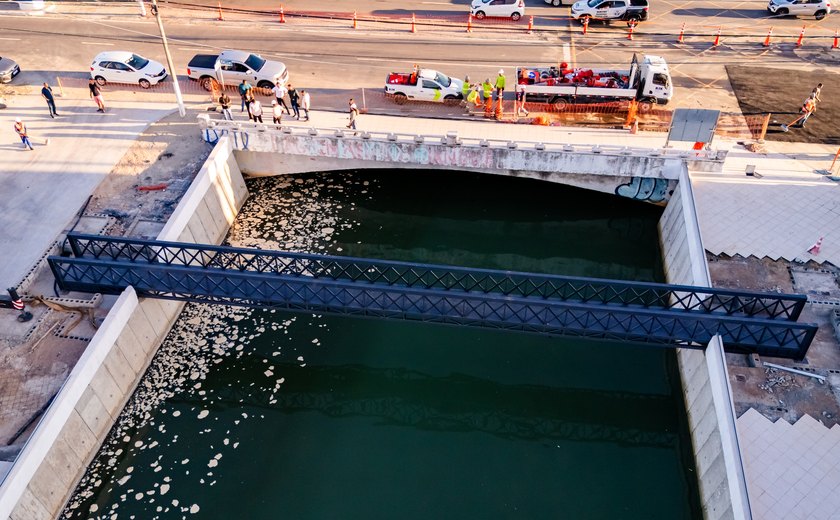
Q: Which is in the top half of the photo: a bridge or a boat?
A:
bridge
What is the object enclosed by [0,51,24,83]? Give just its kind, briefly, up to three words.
car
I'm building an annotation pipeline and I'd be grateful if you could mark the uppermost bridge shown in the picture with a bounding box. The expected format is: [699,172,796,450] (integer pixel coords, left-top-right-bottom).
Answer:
[192,98,729,207]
